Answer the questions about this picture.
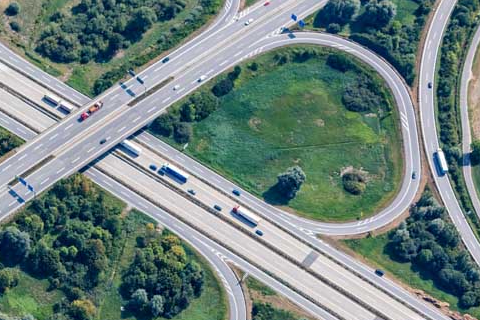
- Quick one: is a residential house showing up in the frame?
No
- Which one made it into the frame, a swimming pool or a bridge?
bridge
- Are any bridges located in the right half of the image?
No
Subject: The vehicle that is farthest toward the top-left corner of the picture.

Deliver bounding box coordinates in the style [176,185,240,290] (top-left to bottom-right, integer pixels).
[45,94,73,113]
